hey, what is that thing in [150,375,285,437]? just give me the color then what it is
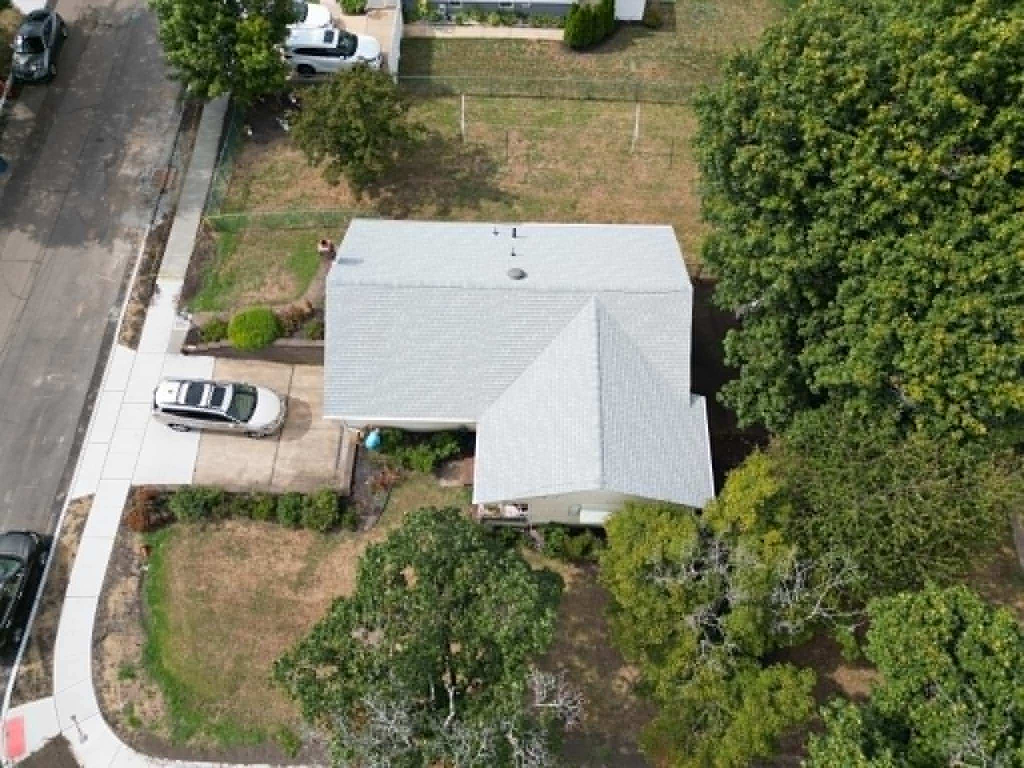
white car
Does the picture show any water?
No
